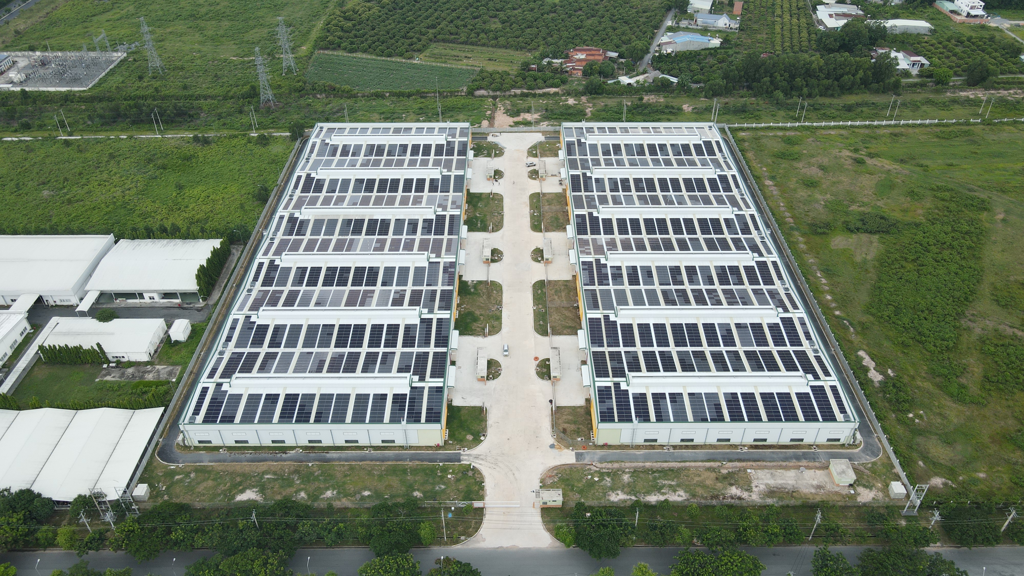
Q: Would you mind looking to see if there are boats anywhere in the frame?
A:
No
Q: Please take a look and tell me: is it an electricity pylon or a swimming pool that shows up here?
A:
electricity pylon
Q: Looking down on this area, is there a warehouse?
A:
Yes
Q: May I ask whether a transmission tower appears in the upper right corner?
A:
No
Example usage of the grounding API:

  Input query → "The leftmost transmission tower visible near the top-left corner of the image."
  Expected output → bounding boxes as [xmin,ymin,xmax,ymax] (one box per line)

[137,18,167,77]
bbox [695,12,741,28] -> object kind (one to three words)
house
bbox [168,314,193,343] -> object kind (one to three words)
building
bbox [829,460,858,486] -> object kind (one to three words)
building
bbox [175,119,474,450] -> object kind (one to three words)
warehouse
